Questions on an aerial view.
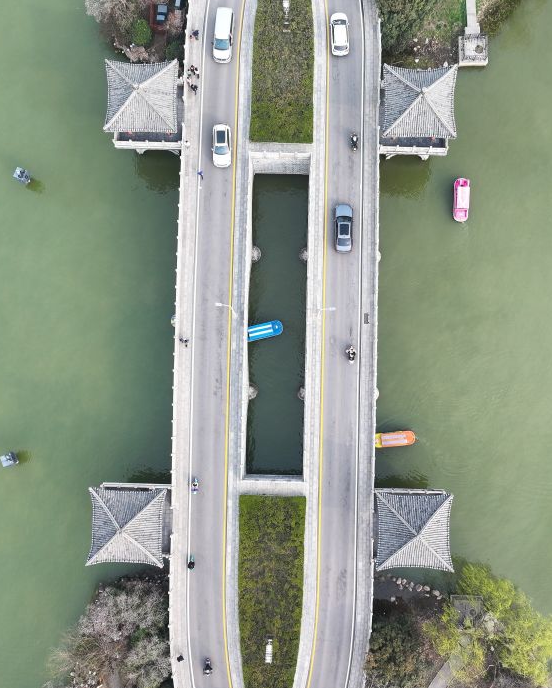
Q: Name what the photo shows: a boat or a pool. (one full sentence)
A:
The image shows a boat.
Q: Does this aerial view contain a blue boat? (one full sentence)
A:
Yes, the photo shows a blue boat.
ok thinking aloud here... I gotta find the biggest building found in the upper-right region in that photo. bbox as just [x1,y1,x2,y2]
[380,63,457,153]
